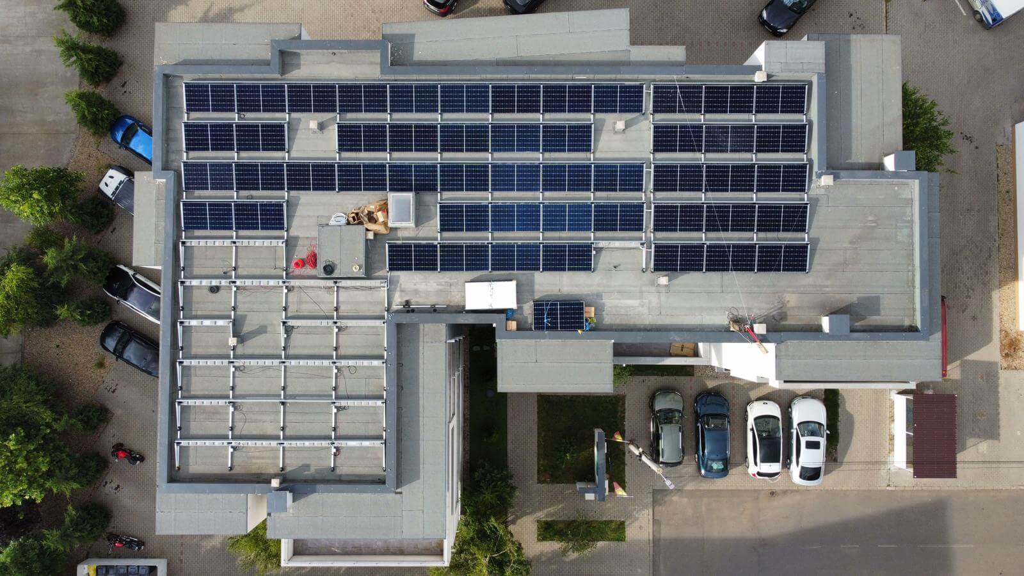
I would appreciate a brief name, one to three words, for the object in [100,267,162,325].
car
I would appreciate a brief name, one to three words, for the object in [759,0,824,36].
car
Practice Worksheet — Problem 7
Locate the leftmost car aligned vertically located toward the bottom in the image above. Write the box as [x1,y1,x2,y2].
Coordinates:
[651,389,690,467]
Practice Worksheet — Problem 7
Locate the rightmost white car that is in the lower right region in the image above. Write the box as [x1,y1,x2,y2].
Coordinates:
[788,397,832,485]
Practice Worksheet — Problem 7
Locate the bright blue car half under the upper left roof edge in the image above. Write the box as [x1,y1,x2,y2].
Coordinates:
[108,113,153,163]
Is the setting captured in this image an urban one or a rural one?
urban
